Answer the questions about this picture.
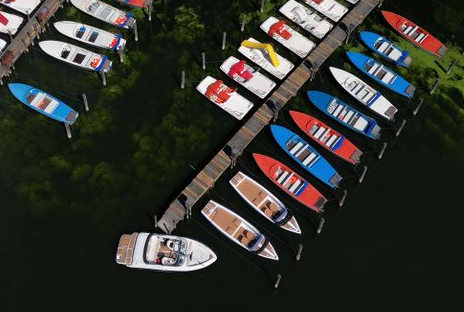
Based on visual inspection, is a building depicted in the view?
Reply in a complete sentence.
No, the photo shows no building.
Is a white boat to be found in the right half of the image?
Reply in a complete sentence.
Yes, a white boat appears in the right half of the image.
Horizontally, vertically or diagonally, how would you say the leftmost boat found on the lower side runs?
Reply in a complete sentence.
Seen from above, the leftmost boat found on the lower side lies horizontally.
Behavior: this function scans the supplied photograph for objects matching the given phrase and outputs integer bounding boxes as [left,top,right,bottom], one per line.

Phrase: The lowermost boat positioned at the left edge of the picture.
[8,82,84,128]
